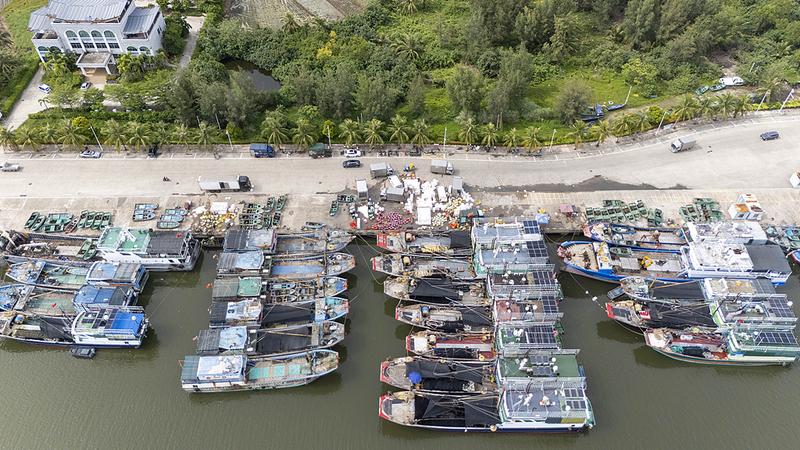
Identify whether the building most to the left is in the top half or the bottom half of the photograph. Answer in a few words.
top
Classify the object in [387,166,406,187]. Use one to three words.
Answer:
vehicle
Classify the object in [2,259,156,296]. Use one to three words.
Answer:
boat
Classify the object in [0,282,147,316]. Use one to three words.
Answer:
boat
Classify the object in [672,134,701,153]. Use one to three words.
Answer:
vehicle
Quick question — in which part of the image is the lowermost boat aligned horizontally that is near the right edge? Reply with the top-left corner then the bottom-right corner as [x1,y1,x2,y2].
[643,320,800,370]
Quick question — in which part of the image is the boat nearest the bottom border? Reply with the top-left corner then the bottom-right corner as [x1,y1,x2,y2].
[379,377,608,436]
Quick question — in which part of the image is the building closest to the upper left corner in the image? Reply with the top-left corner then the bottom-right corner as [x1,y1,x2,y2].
[26,0,175,77]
